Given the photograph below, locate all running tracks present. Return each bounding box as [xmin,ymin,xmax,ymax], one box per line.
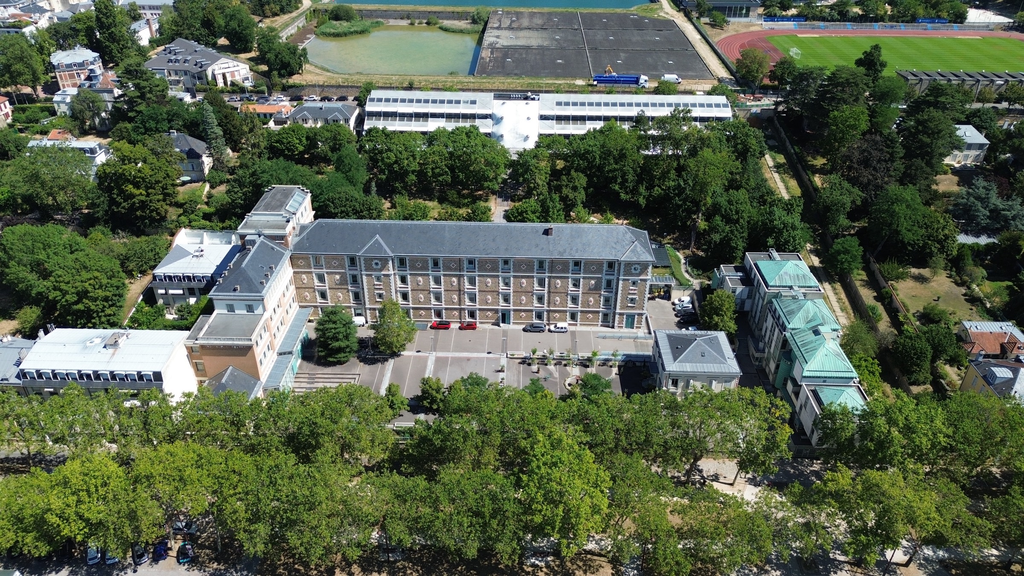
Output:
[720,29,1024,89]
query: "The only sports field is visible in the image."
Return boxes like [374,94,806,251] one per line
[769,36,1024,79]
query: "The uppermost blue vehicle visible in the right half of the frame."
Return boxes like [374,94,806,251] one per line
[595,73,648,88]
